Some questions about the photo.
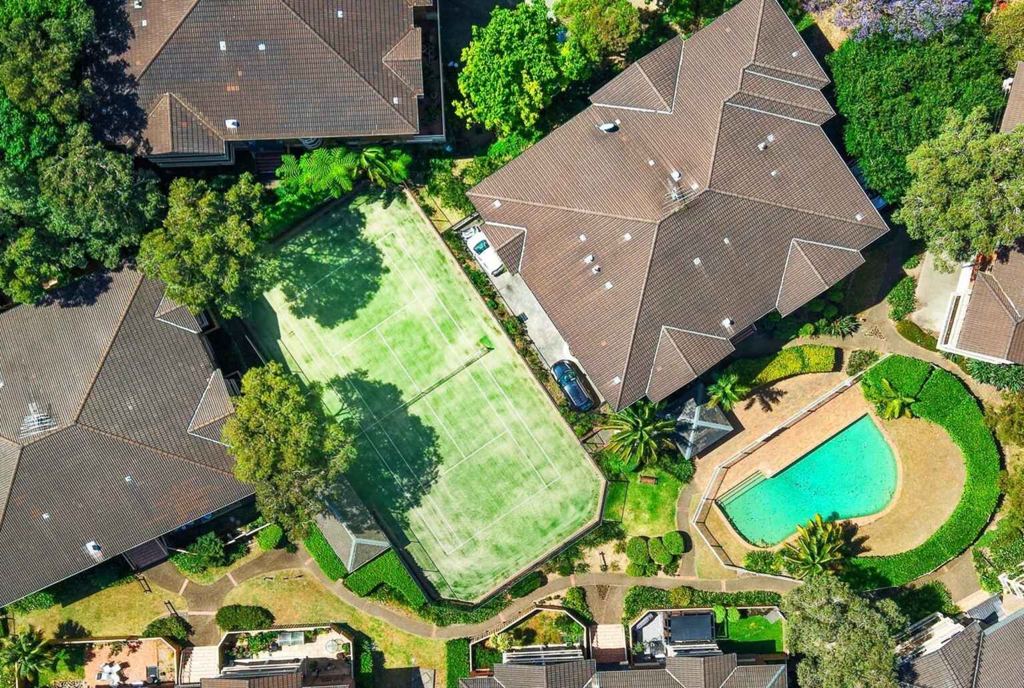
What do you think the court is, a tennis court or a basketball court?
tennis court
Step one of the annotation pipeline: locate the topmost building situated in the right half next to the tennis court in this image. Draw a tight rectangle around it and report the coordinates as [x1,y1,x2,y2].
[467,0,891,413]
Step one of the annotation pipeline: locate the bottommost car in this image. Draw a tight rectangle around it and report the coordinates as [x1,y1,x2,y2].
[552,357,595,416]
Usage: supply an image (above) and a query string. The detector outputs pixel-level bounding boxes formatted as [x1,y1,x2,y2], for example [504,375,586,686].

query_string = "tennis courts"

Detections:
[242,183,605,604]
